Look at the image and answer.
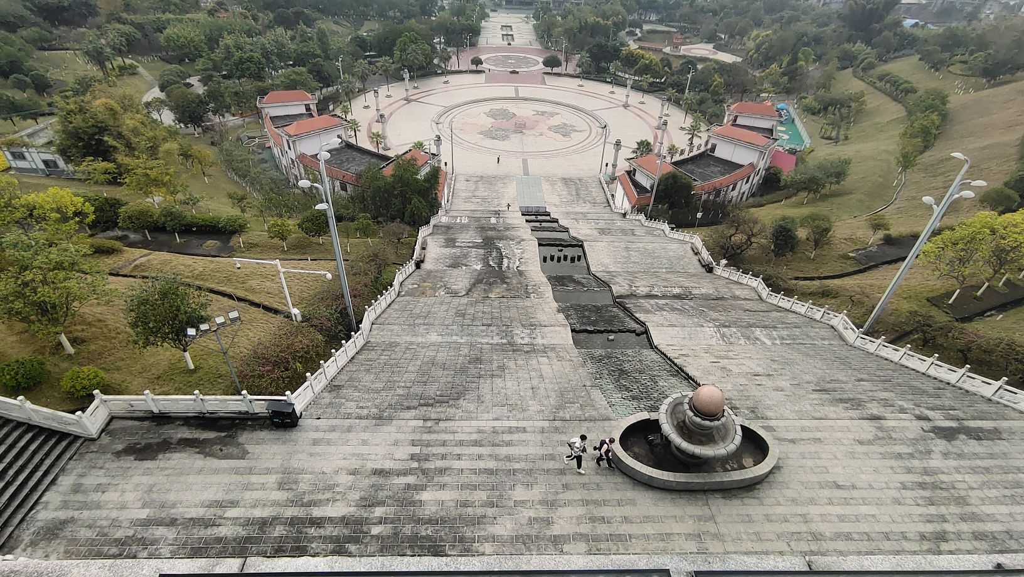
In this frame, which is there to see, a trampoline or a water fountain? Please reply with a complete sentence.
Of the two, only a water fountain appears.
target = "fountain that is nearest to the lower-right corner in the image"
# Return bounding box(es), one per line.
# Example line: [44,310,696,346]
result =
[611,386,784,491]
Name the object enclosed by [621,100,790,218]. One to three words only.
building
